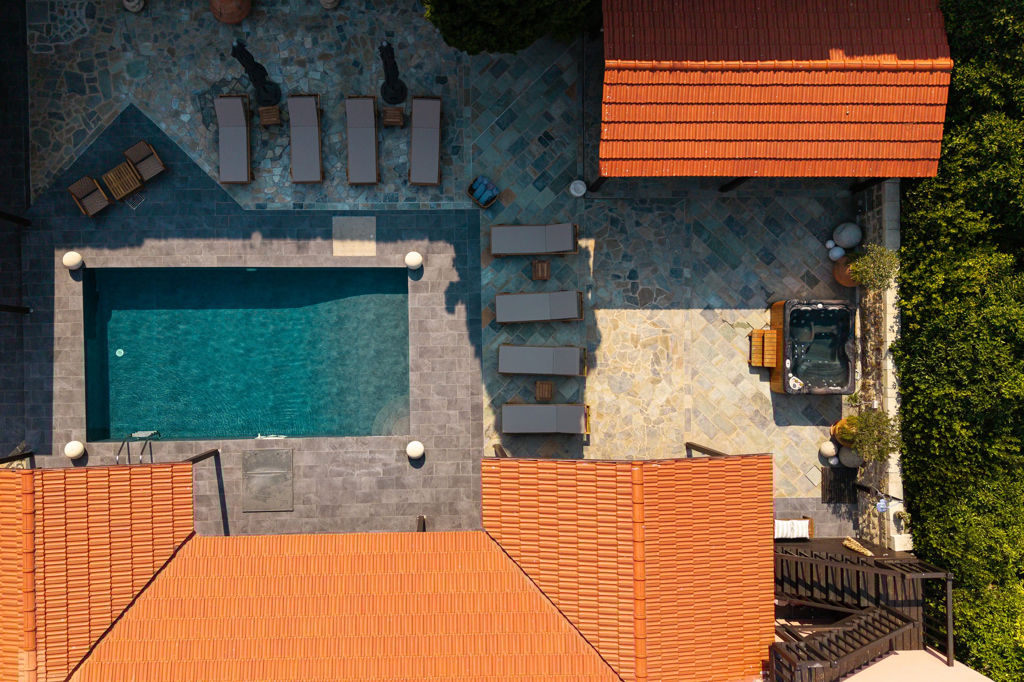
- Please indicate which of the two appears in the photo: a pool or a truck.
pool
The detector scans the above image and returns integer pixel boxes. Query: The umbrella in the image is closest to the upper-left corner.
[228,38,283,106]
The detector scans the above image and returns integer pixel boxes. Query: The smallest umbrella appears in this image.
[842,534,875,557]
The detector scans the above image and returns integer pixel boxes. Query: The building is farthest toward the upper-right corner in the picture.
[584,0,953,194]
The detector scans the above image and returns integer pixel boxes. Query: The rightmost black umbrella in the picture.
[375,37,407,104]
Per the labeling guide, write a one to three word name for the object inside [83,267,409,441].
swimming pool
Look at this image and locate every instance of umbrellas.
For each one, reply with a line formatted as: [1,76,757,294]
[228,38,283,106]
[842,534,875,557]
[375,37,407,104]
